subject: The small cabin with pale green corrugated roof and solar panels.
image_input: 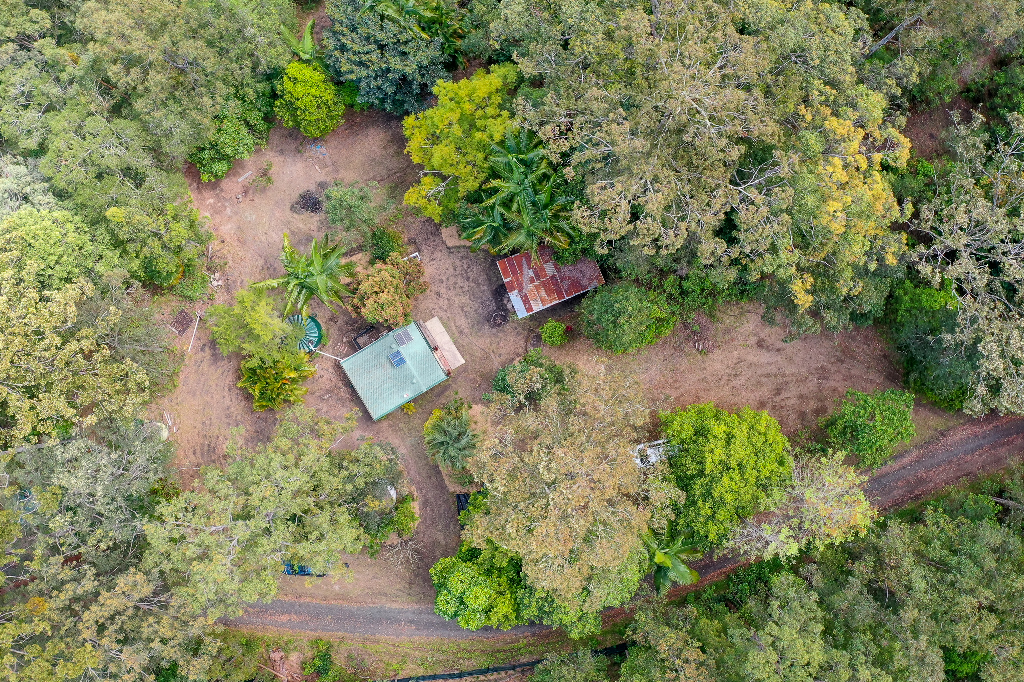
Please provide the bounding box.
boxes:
[340,322,448,423]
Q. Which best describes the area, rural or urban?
rural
